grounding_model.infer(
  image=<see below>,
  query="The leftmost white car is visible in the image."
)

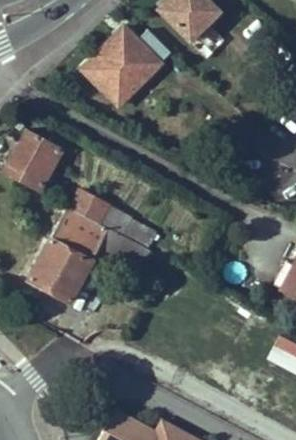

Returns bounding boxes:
[72,294,87,314]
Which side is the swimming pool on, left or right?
right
